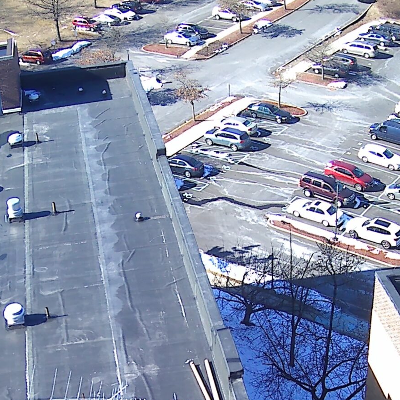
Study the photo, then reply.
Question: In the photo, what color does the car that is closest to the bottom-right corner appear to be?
white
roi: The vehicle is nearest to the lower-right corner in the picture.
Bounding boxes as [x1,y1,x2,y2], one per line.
[344,215,400,248]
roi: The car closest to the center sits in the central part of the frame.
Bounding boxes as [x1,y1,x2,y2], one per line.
[169,153,208,177]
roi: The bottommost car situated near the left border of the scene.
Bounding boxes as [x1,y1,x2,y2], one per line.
[18,45,52,64]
